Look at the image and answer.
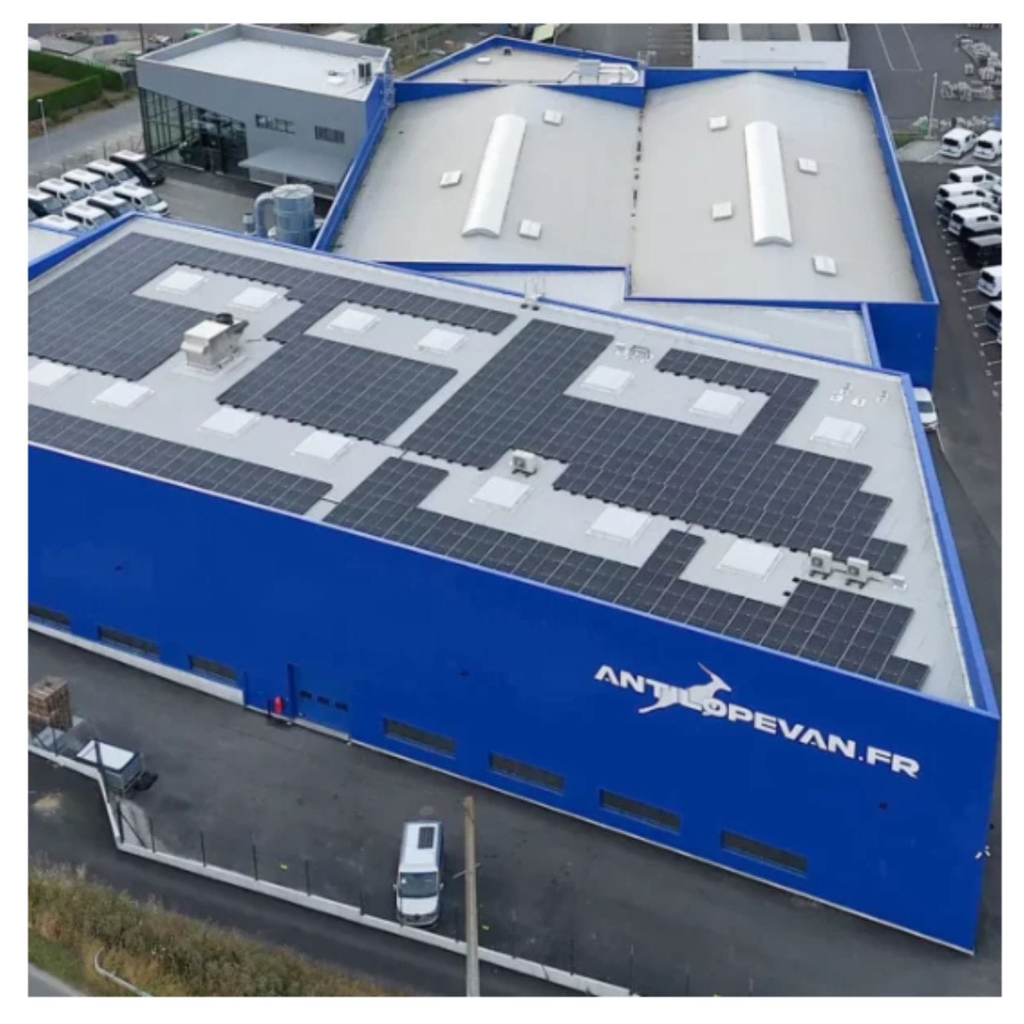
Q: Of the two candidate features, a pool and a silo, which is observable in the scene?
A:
silo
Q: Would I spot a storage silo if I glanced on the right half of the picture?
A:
No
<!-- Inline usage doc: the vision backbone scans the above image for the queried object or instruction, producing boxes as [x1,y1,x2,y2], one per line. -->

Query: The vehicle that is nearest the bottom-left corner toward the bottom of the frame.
[392,819,445,924]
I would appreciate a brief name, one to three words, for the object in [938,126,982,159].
van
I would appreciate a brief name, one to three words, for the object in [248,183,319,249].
silo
